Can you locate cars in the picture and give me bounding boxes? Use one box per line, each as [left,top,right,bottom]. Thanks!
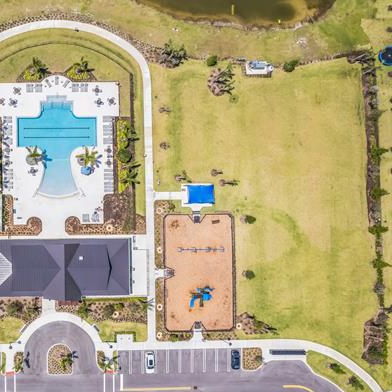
[229,348,240,369]
[144,351,155,372]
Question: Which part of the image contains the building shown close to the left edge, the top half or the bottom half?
bottom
